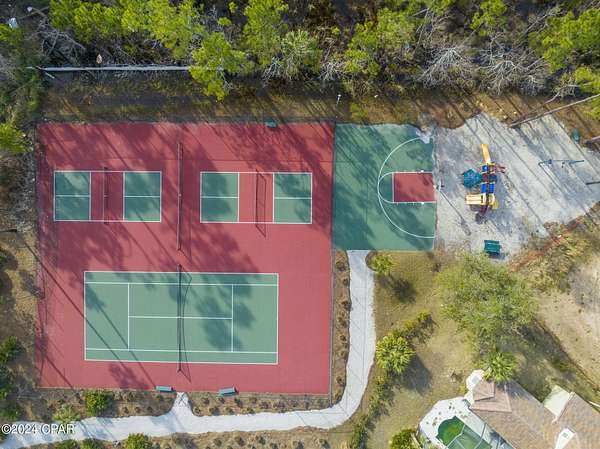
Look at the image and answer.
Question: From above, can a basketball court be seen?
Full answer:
Yes, you can see a basketball court in this photo.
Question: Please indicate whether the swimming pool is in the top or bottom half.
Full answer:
The swimming pool is in the bottom half of the image.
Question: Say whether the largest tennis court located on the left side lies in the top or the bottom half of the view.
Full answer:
The bottom half of the photo is where the largest tennis court located on the left side is.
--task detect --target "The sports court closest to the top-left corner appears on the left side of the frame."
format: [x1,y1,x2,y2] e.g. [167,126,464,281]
[53,171,161,222]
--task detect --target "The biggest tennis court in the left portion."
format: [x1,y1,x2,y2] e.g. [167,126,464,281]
[84,271,278,365]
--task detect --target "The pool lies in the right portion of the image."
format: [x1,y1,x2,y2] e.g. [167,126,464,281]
[437,416,495,449]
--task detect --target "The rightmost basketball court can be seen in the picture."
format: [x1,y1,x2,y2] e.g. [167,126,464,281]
[333,124,435,250]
